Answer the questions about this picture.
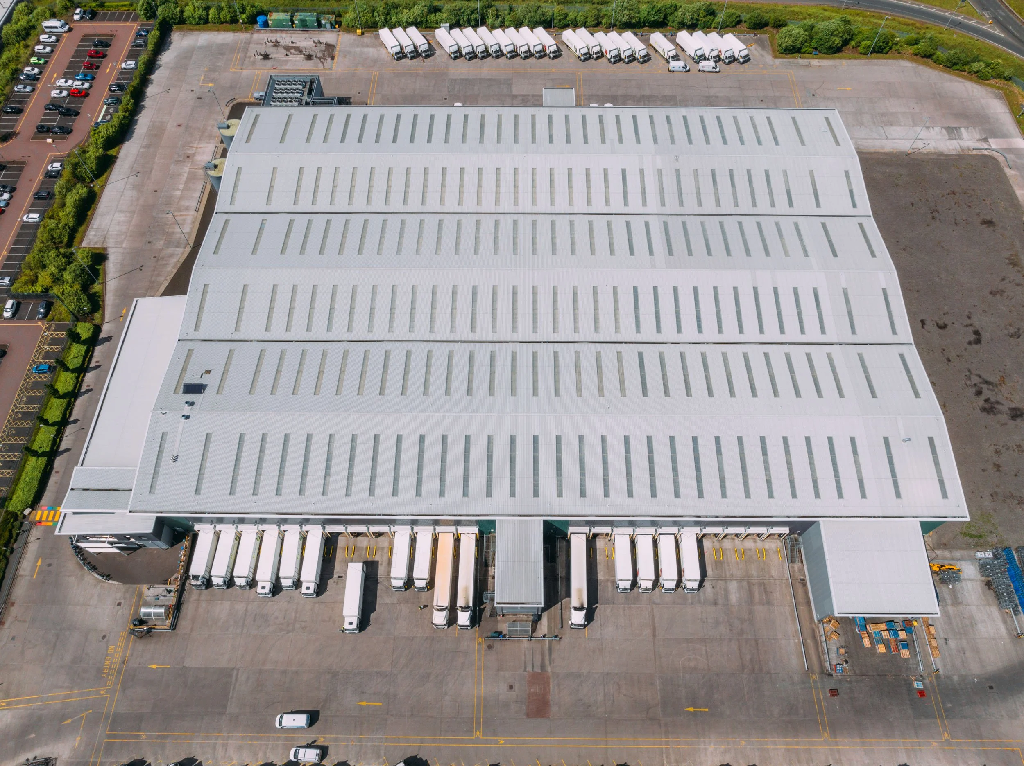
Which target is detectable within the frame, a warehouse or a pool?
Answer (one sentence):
The image shows a warehouse.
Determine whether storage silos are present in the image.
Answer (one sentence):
Yes, I can see a storage silo in this picture.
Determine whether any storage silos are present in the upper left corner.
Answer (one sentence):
Yes, a storage silo shows up in the upper left corner.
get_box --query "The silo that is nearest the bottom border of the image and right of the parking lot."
[204,159,226,195]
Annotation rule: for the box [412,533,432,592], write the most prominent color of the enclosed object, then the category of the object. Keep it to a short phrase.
white vehicle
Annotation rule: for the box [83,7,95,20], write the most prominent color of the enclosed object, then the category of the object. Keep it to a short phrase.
black vehicle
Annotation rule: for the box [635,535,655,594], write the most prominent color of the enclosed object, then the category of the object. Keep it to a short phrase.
white vehicle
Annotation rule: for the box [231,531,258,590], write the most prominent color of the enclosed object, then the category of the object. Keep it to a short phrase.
white truck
